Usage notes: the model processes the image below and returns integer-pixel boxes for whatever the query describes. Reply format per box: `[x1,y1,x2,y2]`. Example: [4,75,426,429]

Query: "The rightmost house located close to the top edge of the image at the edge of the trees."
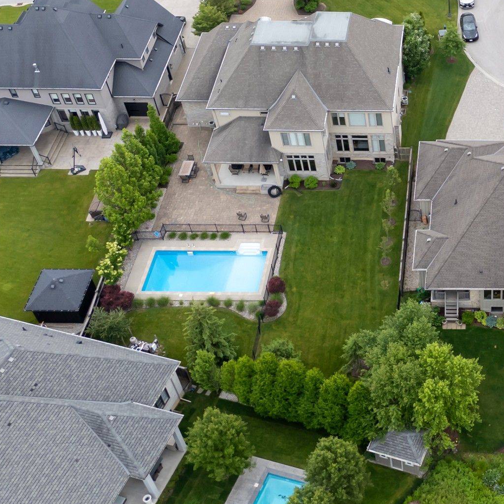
[175,12,403,189]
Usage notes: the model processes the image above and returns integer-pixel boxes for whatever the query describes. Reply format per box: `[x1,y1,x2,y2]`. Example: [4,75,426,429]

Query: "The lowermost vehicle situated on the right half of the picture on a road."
[460,11,479,38]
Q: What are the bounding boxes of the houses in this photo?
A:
[0,316,186,504]
[0,0,188,134]
[175,12,403,189]
[412,139,504,315]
